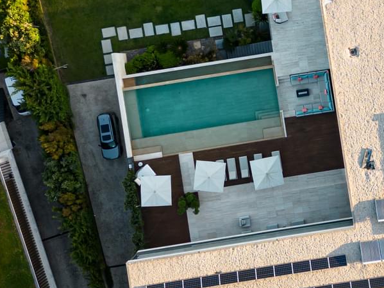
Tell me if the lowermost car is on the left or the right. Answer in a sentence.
You can find the lowermost car on the left side of the picture.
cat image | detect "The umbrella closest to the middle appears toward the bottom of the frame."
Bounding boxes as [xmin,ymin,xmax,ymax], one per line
[193,160,227,193]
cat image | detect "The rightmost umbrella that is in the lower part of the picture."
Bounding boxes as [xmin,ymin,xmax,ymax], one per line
[249,155,285,191]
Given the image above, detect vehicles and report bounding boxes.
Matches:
[0,72,33,118]
[97,112,122,160]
